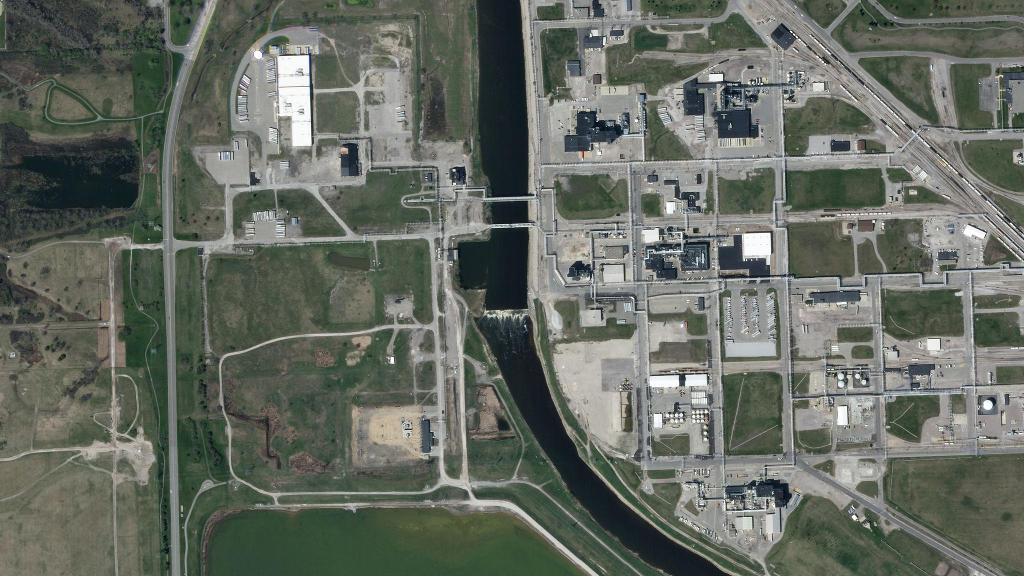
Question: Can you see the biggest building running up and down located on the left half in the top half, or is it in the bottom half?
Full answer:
Seen from above, the biggest building running up and down located on the left half lies in the top half of the view.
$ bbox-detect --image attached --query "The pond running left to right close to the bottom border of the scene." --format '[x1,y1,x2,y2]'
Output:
[203,507,586,576]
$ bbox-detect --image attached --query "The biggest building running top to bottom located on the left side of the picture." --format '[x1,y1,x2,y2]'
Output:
[277,55,311,146]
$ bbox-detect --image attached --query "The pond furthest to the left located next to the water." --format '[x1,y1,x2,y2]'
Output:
[3,146,139,209]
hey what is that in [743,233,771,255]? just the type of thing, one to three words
building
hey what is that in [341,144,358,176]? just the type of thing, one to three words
building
